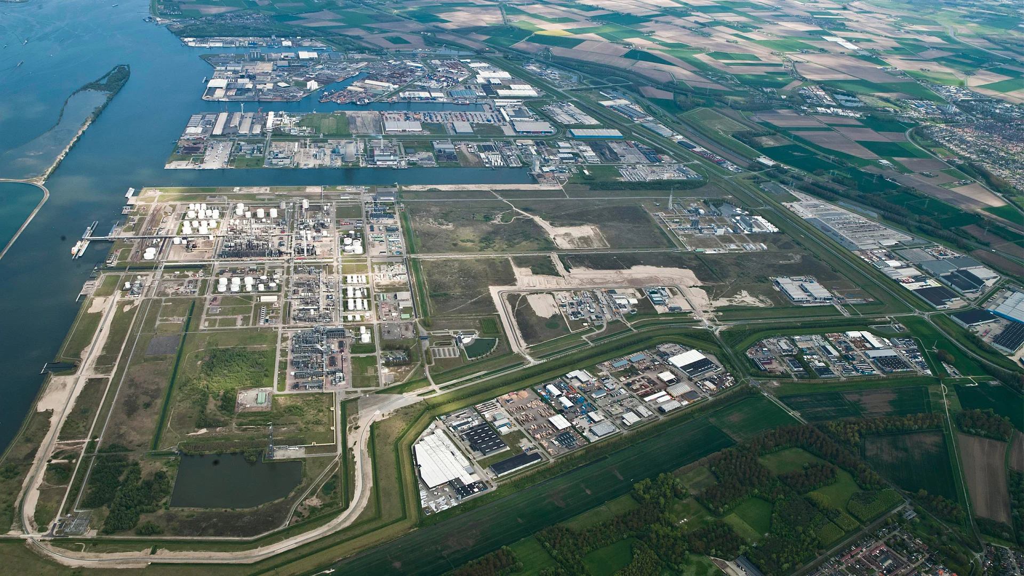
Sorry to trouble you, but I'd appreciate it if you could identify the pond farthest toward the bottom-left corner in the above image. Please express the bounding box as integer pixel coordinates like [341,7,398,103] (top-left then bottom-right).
[170,452,301,507]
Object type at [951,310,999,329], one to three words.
building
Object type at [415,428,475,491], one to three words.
building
